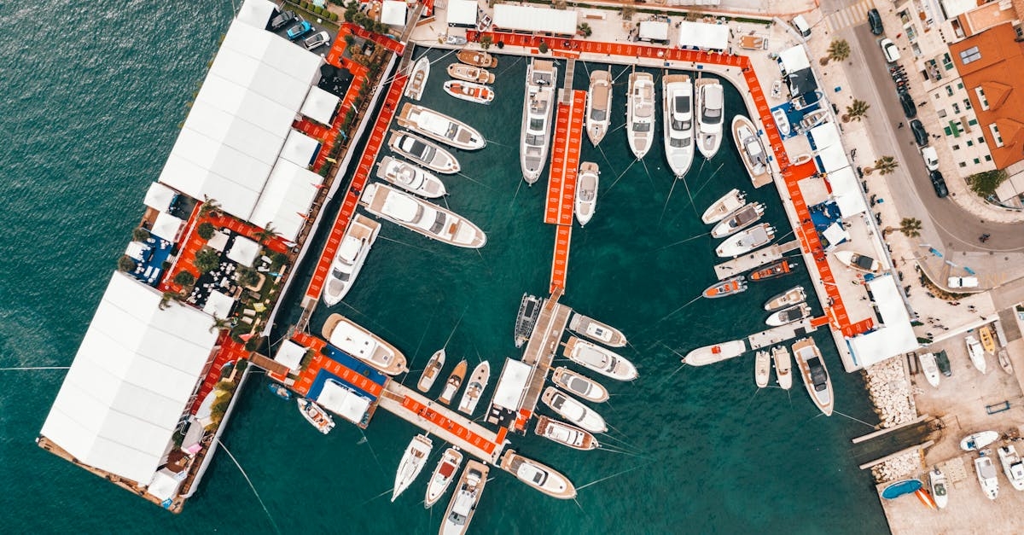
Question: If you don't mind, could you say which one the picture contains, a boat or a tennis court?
boat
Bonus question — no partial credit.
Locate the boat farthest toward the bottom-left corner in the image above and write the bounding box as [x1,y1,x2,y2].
[268,384,293,400]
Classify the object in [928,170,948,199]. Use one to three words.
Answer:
car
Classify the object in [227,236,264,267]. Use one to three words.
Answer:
tent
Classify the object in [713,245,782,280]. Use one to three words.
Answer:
pier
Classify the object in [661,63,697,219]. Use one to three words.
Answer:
boat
